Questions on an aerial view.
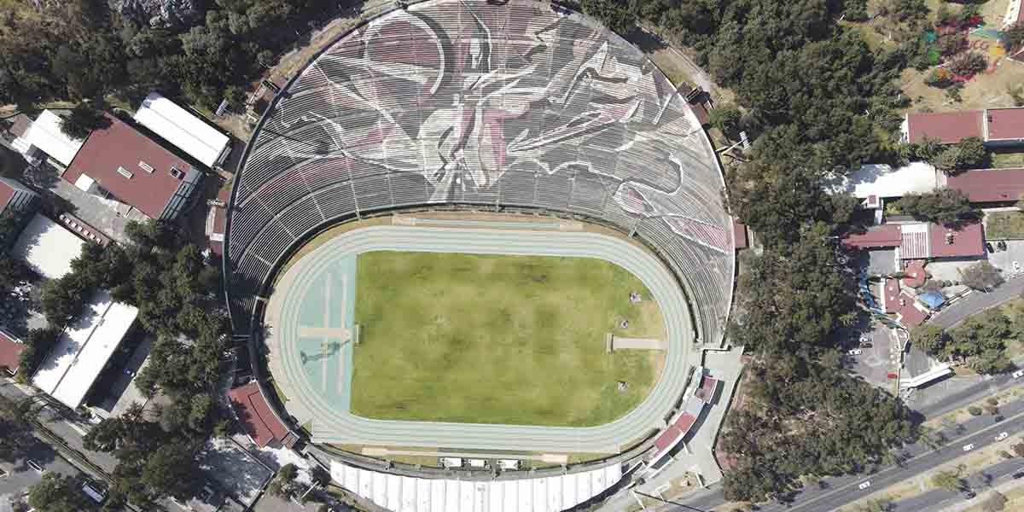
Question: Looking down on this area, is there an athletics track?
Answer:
Yes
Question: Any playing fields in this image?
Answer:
Yes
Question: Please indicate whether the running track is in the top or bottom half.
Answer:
bottom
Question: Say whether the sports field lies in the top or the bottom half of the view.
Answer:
bottom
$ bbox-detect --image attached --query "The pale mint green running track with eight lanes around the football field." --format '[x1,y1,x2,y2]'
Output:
[266,224,697,450]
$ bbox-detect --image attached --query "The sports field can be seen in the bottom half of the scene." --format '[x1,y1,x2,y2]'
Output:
[351,253,669,421]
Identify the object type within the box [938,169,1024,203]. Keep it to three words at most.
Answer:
building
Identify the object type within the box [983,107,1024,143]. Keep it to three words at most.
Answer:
building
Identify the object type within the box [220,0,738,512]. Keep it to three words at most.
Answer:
stadium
